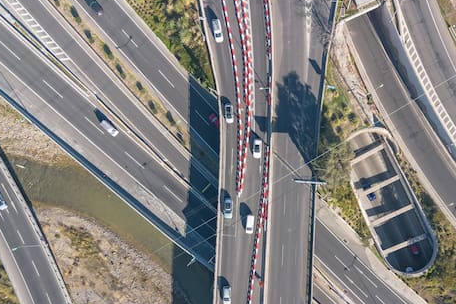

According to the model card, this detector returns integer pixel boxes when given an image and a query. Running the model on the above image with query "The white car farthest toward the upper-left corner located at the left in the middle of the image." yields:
[100,120,119,138]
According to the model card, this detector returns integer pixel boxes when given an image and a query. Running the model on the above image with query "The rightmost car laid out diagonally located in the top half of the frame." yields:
[205,110,219,130]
